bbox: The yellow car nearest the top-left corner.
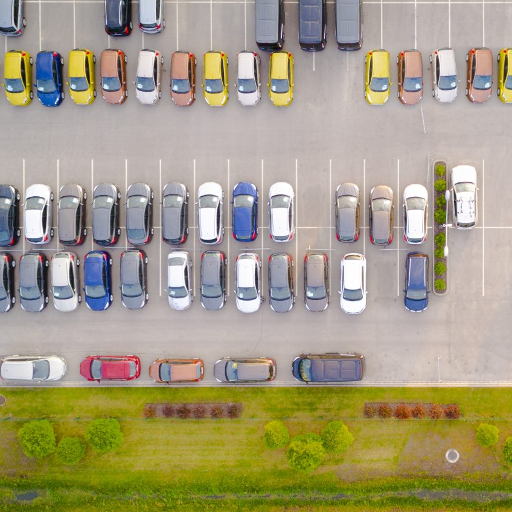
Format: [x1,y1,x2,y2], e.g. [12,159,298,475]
[3,51,34,106]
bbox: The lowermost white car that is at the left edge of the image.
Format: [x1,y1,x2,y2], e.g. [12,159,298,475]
[1,355,65,384]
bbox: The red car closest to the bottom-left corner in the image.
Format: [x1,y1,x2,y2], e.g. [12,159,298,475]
[84,356,138,383]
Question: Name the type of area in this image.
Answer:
parking lot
